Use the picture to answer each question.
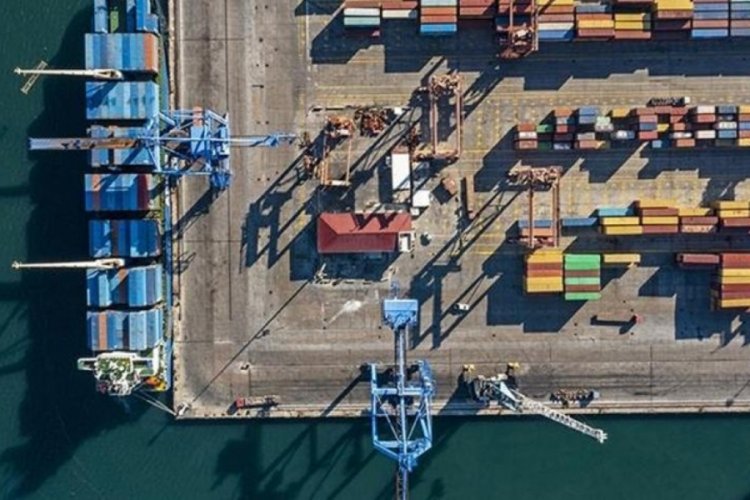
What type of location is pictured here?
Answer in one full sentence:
What you see here is a port.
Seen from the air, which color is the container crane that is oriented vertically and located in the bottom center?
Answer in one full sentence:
The container crane that is oriented vertically and located in the bottom center is blue.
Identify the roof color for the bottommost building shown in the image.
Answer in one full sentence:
The roof of the bottommost building is red.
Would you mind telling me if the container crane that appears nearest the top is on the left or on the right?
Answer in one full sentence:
The container crane that appears nearest the top appears in the right half of the scene.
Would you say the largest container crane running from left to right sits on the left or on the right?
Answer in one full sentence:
The largest container crane running from left to right sits on the left side.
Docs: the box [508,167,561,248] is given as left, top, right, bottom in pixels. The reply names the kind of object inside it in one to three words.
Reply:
container crane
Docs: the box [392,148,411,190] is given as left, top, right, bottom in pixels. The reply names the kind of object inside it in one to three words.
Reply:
shed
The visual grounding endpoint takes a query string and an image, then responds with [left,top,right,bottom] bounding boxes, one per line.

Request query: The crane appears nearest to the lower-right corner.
[464,364,611,441]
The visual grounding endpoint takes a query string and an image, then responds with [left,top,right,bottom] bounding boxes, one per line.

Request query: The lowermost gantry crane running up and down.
[364,279,442,500]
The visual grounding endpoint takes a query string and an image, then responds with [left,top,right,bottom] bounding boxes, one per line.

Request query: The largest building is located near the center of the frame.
[318,213,412,253]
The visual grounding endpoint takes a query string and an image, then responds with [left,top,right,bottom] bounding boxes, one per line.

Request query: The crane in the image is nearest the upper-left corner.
[13,67,130,81]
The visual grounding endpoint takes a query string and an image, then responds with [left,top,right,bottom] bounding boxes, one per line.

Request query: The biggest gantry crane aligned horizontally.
[35,102,297,190]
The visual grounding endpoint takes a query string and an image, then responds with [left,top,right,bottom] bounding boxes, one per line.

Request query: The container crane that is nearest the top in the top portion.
[491,0,540,70]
